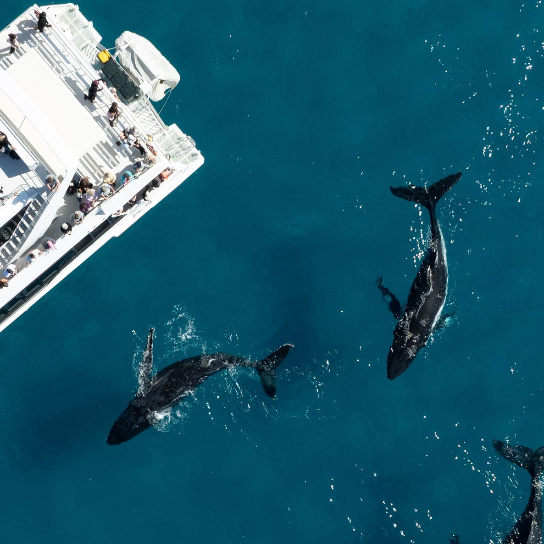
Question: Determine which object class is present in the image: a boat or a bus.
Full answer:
It is a boat that can be seen here.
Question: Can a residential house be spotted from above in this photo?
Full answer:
No, the picture doesn't show any residential house.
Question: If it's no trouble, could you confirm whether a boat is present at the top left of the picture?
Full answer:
Yes, I can see a boat at the top left of the picture.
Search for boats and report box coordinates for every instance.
[118,29,178,103]
[0,8,202,337]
